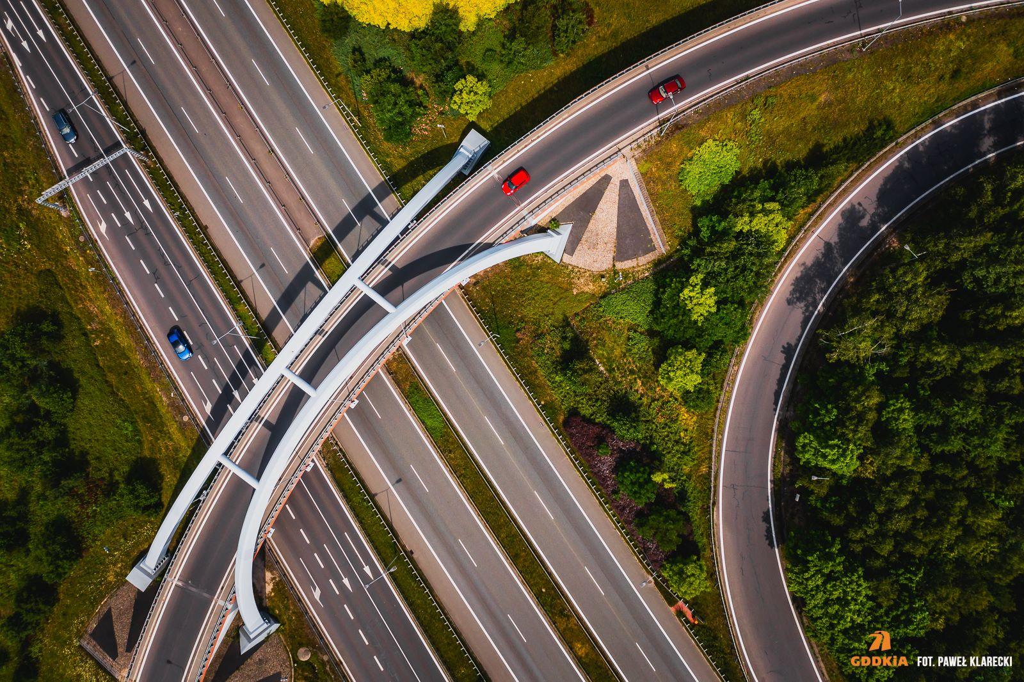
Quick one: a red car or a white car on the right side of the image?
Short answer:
red car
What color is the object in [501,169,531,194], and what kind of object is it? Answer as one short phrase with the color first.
red car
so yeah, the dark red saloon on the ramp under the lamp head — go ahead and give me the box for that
[648,77,686,103]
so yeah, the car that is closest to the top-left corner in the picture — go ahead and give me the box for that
[49,109,77,142]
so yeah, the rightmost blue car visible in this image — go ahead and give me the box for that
[169,328,192,359]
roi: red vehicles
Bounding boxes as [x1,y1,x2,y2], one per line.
[648,77,686,103]
[501,169,531,194]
